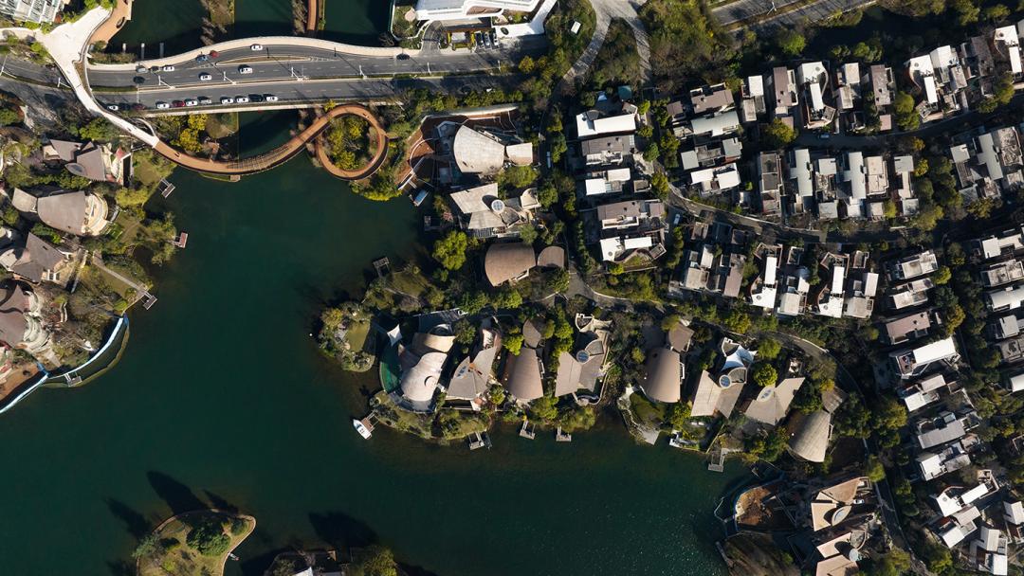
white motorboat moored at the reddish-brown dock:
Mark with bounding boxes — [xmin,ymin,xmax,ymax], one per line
[354,420,370,440]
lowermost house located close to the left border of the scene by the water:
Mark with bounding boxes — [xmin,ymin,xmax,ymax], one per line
[0,284,72,374]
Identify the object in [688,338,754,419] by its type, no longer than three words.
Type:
house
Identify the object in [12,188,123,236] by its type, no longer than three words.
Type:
house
